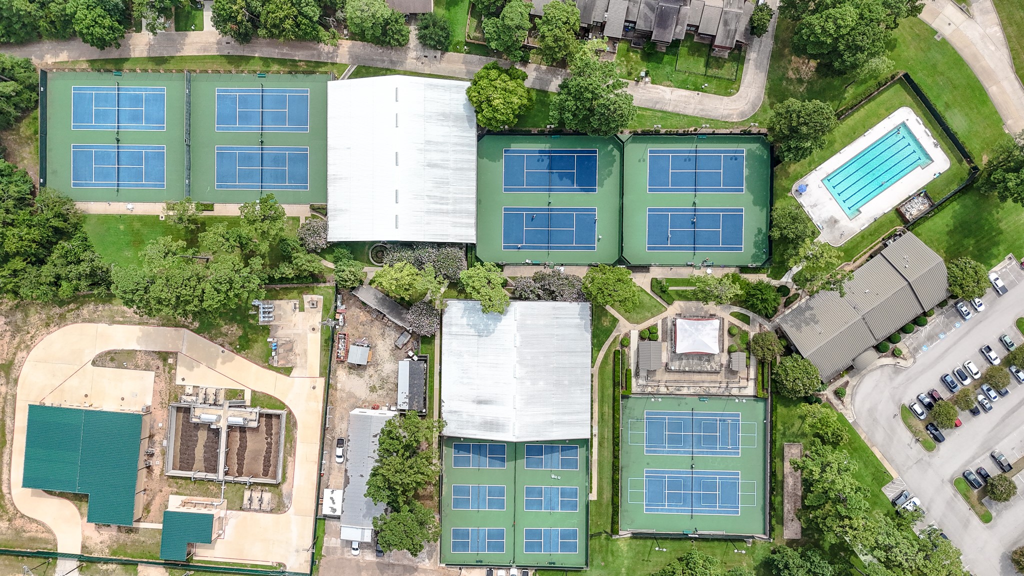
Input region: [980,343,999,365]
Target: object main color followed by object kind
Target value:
white vehicle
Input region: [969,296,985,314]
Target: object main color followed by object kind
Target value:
white car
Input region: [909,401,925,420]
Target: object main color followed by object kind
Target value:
white car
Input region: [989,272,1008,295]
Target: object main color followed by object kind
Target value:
white vehicle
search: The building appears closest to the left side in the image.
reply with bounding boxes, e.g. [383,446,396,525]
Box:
[22,403,150,526]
